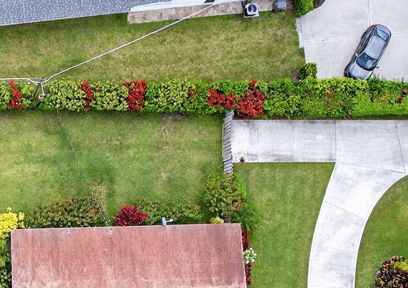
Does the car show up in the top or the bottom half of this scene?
top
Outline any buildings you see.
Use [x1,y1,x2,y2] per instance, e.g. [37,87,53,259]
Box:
[0,0,270,26]
[10,217,247,288]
